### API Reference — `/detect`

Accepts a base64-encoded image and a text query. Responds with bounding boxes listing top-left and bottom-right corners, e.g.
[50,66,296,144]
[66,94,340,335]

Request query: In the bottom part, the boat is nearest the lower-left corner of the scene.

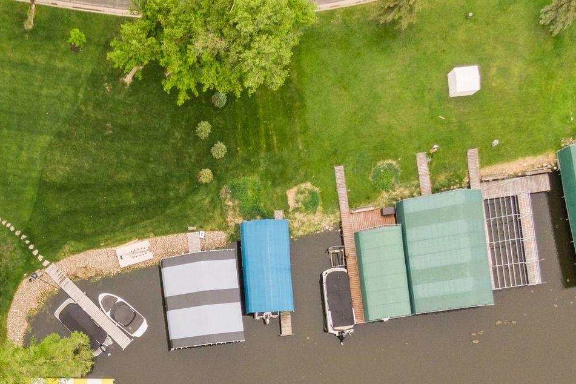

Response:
[53,299,112,361]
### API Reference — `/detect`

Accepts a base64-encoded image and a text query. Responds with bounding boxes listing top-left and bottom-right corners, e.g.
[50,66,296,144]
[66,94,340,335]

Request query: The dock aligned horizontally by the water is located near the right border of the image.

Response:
[479,173,551,199]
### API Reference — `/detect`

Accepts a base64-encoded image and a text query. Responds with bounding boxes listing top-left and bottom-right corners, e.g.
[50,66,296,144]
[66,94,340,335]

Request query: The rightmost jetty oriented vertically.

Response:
[514,193,542,286]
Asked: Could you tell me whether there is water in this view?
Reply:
Yes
